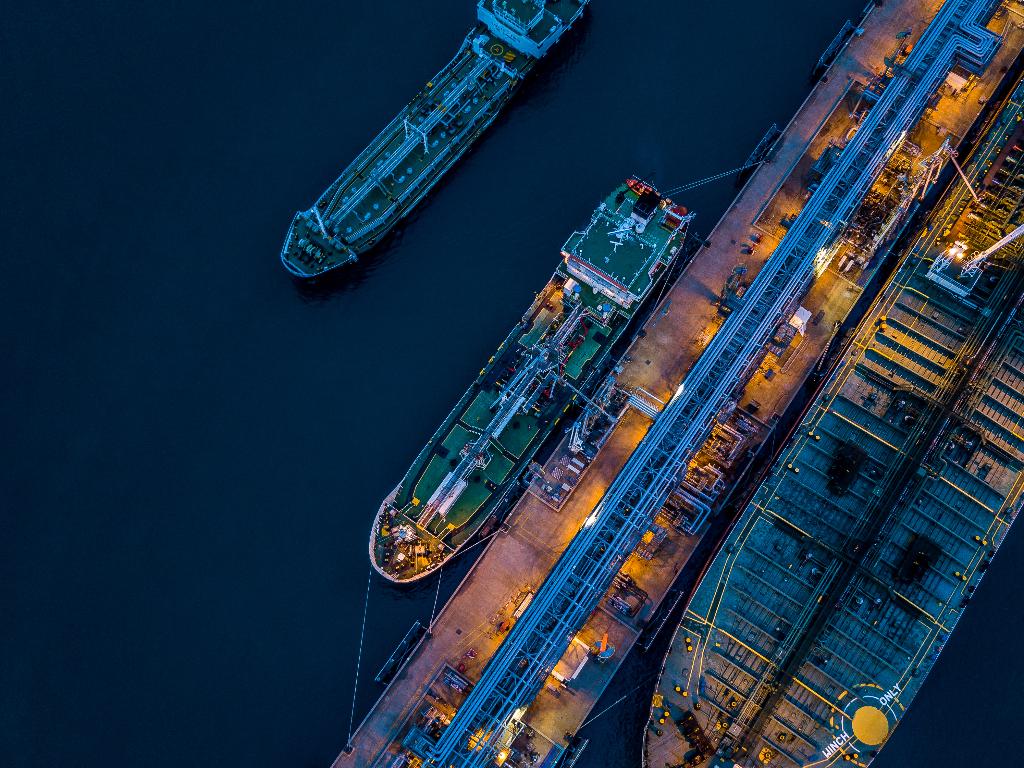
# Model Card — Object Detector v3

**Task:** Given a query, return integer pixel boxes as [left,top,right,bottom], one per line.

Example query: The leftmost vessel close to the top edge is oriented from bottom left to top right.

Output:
[283,0,598,283]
